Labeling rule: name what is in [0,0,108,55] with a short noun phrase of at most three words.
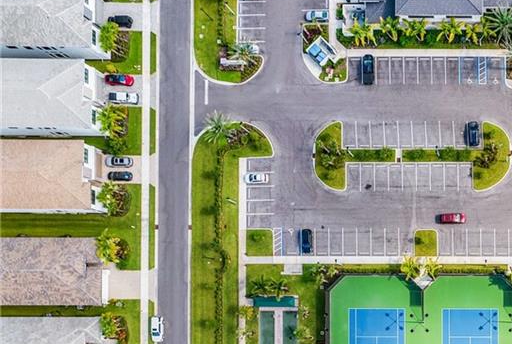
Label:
house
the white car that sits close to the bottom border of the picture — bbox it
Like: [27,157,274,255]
[150,317,165,341]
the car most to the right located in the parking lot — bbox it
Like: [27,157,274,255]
[466,121,479,147]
